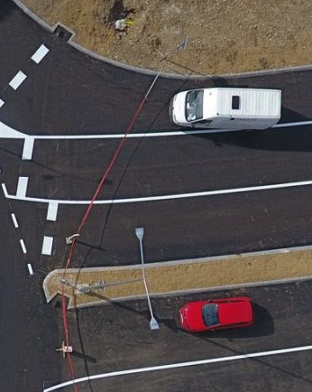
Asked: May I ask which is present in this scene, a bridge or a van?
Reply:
van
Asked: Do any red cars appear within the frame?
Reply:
Yes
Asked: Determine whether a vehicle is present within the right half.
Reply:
Yes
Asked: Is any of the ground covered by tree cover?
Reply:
No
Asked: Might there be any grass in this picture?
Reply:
No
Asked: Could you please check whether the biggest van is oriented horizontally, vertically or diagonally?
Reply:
horizontally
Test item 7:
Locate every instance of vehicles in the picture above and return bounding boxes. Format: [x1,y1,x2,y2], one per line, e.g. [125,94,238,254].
[177,295,258,333]
[166,83,285,130]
